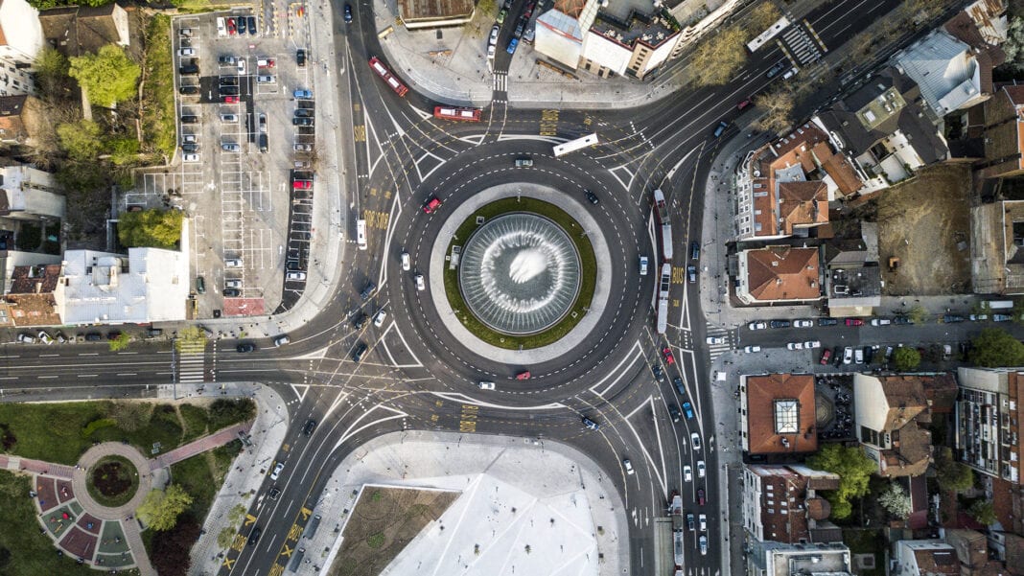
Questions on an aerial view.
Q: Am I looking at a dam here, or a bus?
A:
bus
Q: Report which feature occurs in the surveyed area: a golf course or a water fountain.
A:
water fountain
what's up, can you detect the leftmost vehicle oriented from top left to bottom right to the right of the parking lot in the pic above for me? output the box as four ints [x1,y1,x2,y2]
[369,56,410,99]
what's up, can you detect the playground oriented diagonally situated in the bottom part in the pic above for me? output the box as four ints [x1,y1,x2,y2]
[34,475,135,570]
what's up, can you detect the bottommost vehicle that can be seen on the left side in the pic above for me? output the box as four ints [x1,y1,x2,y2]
[249,527,261,544]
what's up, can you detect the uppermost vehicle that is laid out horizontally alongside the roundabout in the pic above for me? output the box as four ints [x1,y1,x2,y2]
[433,107,488,121]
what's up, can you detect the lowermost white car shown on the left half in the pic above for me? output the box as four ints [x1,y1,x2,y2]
[271,462,284,480]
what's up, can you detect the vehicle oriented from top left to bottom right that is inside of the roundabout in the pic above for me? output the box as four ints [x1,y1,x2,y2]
[583,189,599,206]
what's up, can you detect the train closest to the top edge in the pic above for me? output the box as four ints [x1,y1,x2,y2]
[653,189,672,259]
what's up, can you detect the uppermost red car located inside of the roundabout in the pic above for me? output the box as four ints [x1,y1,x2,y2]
[422,197,440,212]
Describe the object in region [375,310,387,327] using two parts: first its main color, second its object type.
white vehicle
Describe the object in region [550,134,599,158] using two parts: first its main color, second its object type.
white bus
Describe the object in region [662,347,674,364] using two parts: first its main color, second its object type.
red vehicle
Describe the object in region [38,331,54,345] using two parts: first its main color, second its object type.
white car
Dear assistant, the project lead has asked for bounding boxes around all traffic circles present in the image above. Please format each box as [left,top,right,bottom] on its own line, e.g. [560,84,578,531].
[385,140,655,409]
